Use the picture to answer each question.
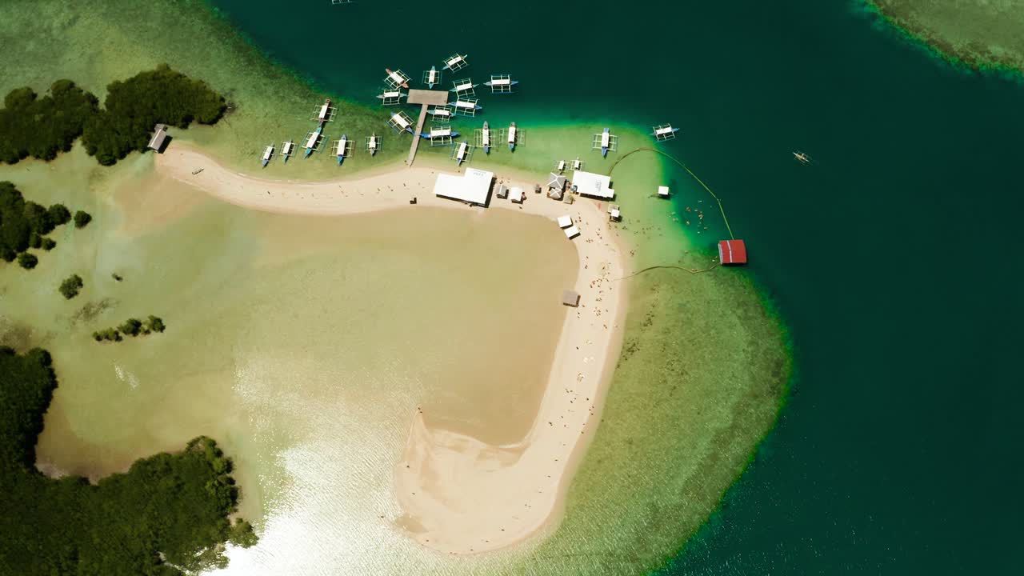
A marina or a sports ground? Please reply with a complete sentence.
This image shows a marina.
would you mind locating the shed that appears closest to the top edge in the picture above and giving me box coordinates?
[146,127,178,155]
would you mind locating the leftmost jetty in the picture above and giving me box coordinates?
[407,89,449,166]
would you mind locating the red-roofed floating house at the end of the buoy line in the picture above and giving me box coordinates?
[716,238,747,269]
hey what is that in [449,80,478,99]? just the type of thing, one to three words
boat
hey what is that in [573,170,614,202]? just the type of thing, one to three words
building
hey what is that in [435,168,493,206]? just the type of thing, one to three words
building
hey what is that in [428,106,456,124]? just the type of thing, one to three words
boat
